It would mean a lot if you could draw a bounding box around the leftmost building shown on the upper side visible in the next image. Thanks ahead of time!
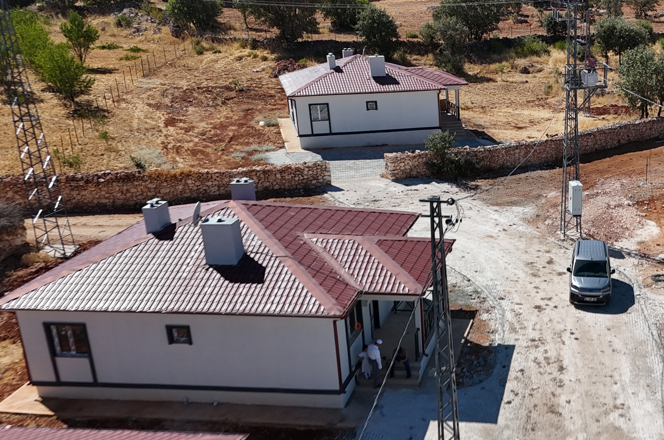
[278,45,469,153]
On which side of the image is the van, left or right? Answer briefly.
right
